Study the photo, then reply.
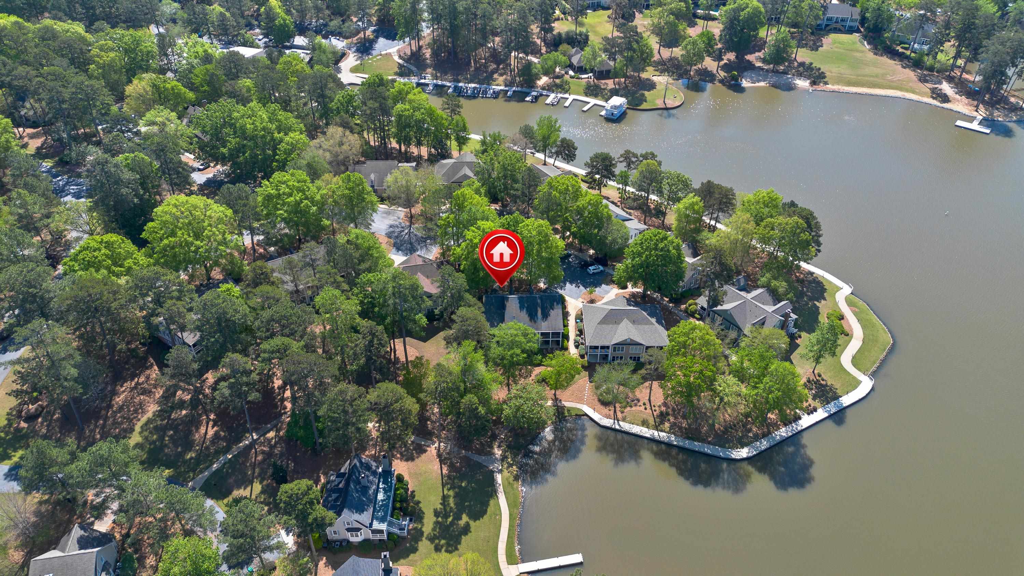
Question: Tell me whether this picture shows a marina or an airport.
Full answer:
The area seen from above is a marina.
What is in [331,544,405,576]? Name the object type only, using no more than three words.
house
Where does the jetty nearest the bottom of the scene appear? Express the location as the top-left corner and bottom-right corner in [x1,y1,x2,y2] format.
[520,551,583,575]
